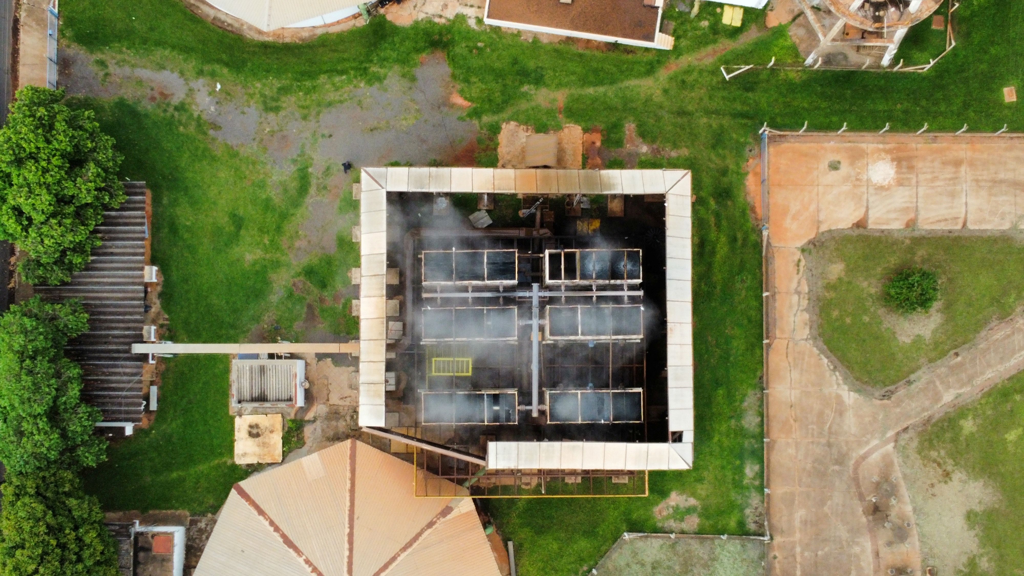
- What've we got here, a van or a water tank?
water tank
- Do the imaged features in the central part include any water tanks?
Yes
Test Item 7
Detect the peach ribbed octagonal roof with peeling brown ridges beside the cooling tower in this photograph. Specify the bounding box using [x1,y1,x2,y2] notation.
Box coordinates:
[193,440,500,576]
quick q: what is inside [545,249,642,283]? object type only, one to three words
water tank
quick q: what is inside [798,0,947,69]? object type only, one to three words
water tower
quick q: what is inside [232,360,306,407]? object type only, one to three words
shed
